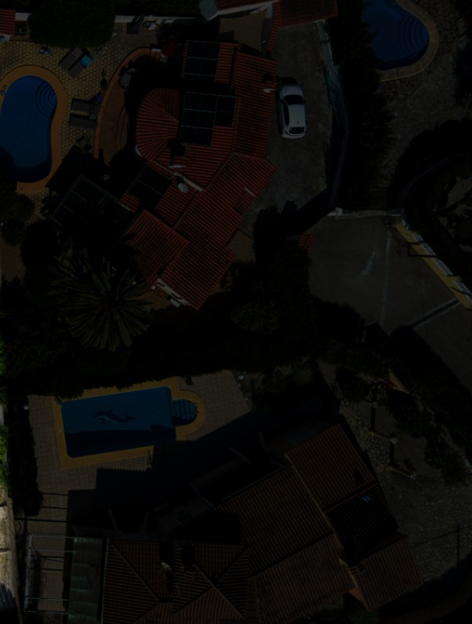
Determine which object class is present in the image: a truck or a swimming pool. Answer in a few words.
swimming pool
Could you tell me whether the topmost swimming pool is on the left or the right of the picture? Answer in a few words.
right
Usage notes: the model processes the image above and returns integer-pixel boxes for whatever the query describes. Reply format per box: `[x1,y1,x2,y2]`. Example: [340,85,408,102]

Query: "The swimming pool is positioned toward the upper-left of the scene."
[0,65,67,193]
